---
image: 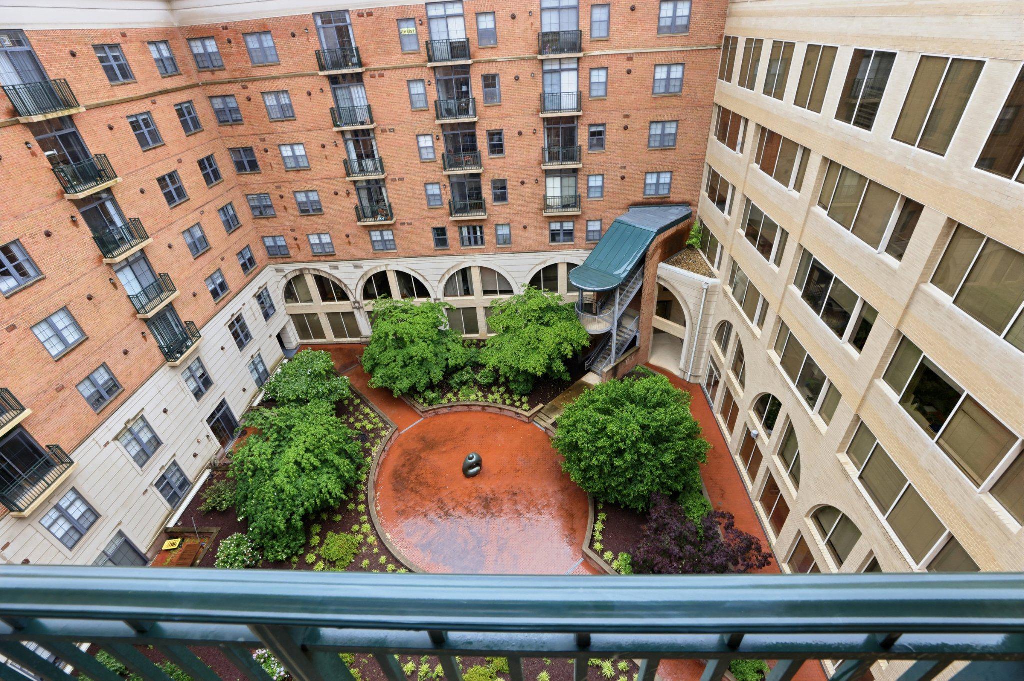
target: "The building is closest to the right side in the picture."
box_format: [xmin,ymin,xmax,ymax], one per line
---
[693,0,1024,574]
